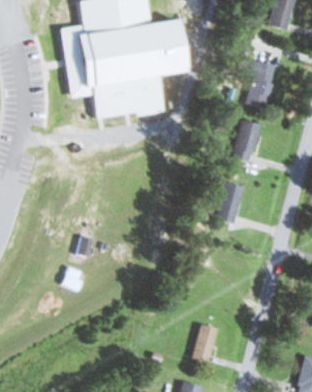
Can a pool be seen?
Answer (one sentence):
No, the picture doesn't show any pool.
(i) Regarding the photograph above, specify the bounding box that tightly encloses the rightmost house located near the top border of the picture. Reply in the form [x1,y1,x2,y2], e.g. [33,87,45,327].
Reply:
[270,0,297,30]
